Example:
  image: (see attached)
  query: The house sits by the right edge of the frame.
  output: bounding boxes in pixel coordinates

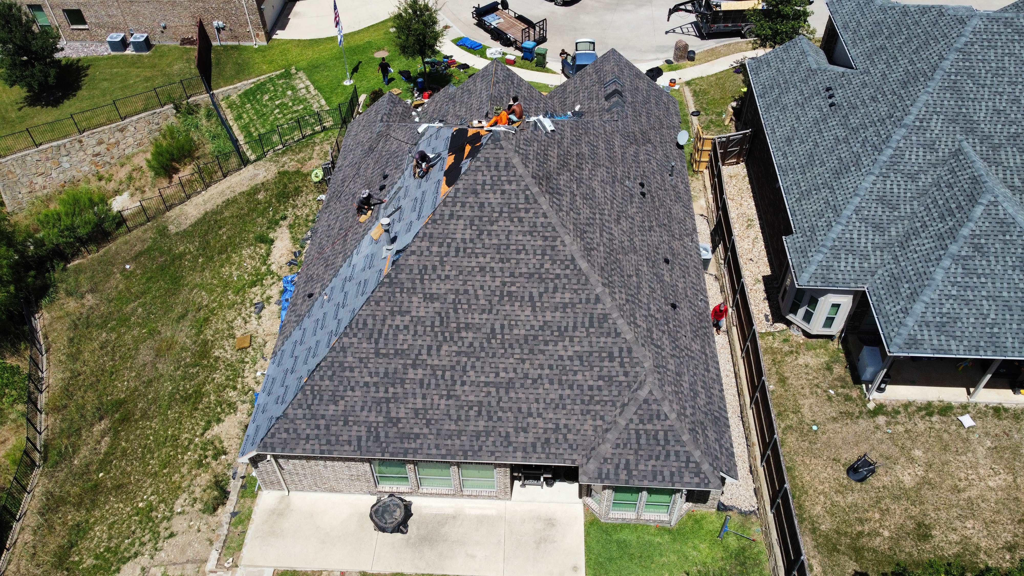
[745,0,1024,410]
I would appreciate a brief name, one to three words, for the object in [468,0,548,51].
trailer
